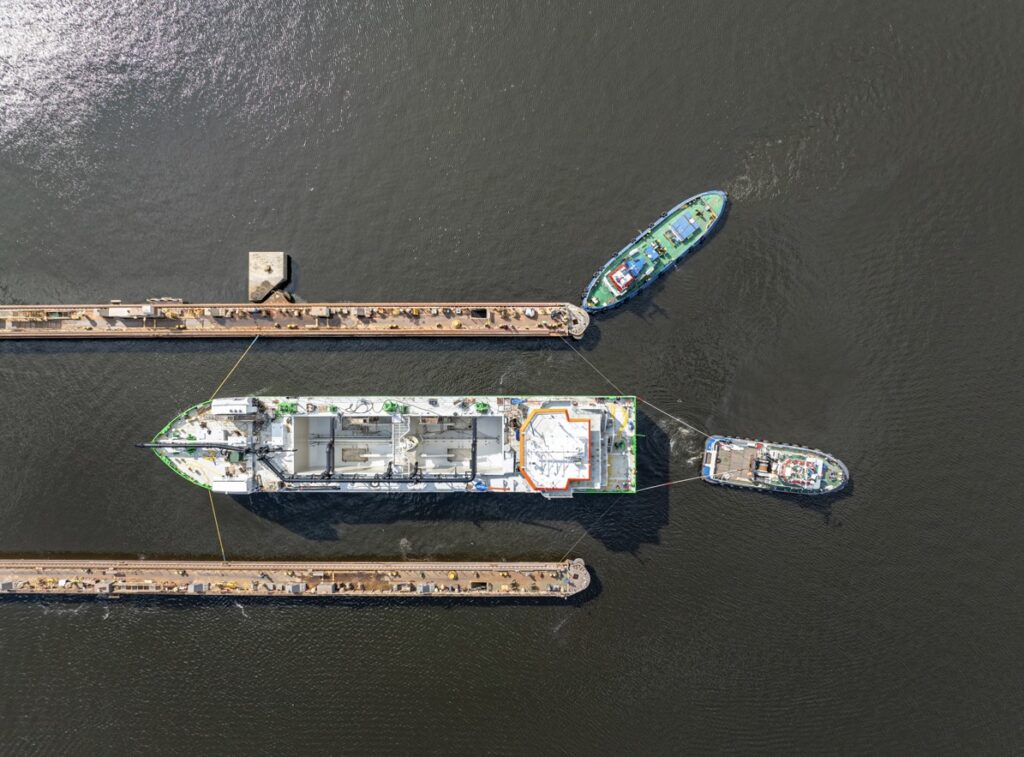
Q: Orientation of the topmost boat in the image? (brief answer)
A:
diagonally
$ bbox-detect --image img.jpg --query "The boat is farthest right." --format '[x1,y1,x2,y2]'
[700,434,849,496]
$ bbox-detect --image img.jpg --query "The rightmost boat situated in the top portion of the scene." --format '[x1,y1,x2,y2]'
[576,192,728,317]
